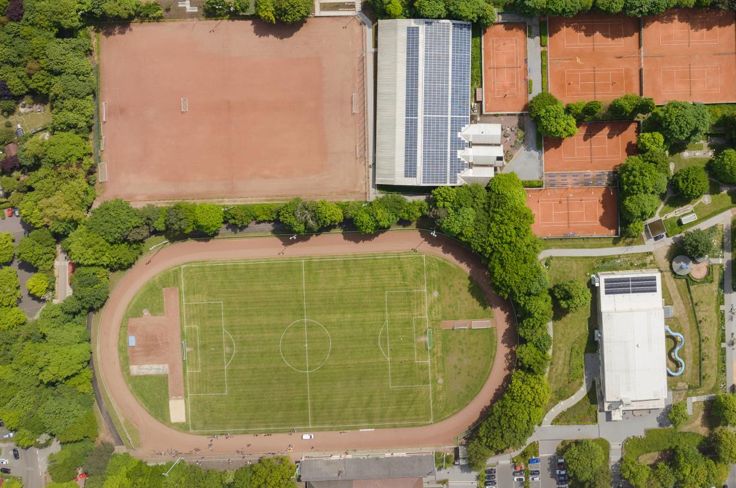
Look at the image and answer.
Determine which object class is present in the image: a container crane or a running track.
running track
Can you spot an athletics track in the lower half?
Yes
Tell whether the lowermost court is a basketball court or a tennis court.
tennis court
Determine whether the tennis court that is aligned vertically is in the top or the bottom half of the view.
top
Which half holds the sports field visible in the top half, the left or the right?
left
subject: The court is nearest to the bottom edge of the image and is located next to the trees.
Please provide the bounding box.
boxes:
[523,187,619,238]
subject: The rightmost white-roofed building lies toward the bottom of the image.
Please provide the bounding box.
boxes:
[589,266,672,421]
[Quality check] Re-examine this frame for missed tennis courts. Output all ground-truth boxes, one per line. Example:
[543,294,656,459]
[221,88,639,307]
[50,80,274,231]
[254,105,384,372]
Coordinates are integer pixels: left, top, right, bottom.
[483,22,528,113]
[643,10,736,57]
[547,15,641,62]
[523,187,619,238]
[549,60,642,104]
[643,55,736,105]
[542,120,641,172]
